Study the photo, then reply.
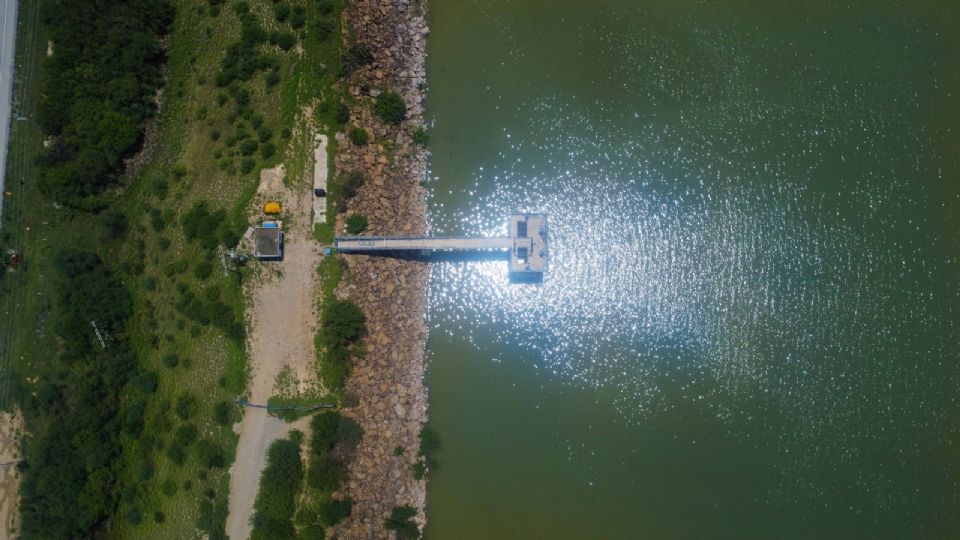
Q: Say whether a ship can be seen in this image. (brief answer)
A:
No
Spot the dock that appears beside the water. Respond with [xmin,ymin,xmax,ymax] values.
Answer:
[332,235,512,256]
